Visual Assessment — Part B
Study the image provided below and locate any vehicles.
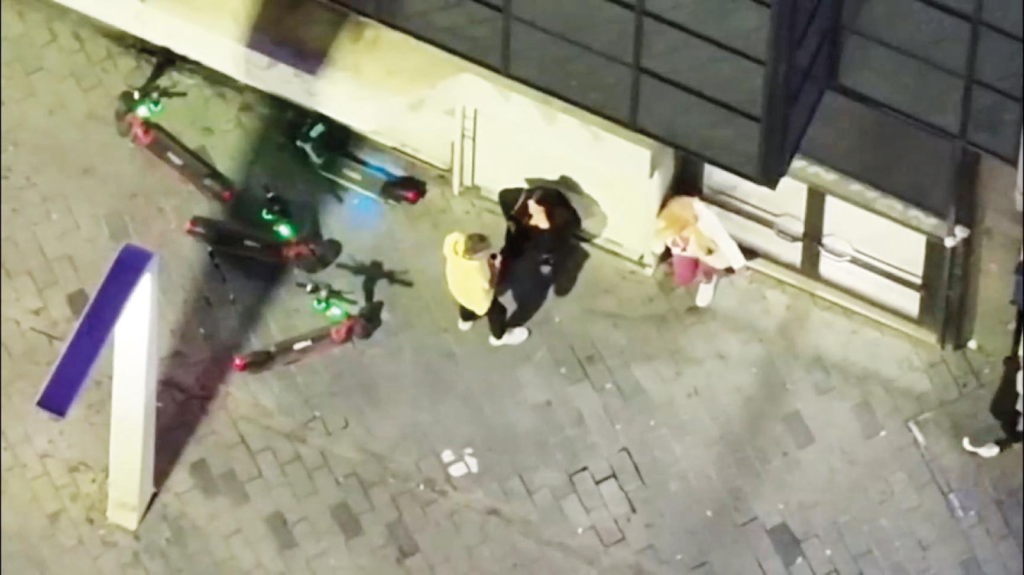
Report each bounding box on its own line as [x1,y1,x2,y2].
[113,80,238,204]
[185,179,346,266]
[231,270,379,372]
[278,101,418,201]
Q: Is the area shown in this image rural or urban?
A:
urban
